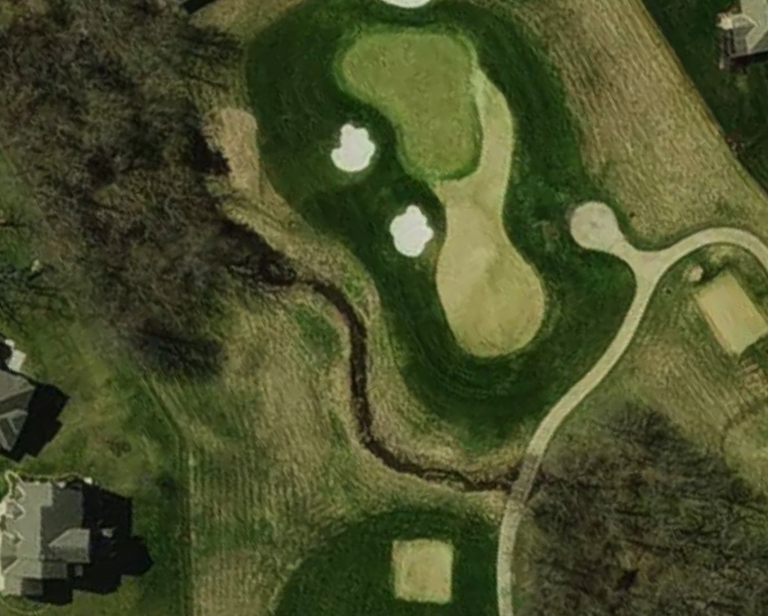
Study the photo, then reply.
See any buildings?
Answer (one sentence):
Yes, the frame does contain a building.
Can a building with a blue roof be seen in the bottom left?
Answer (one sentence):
No, no building with a blue roof appears in the bottom left.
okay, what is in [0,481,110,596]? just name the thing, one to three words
house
